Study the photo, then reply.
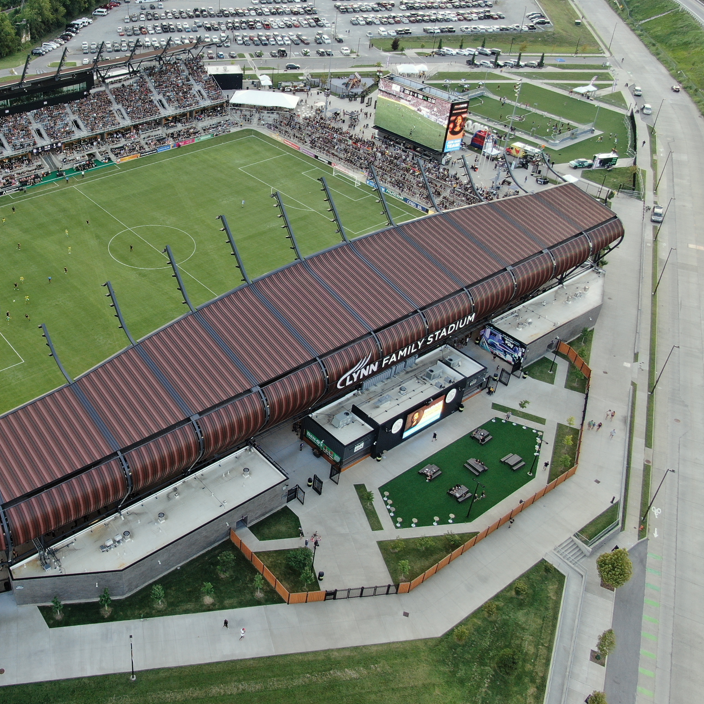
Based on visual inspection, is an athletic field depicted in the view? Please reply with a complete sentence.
Yes, an athletic field appears in the view.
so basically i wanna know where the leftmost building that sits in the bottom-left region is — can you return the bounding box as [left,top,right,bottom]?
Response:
[9,445,290,606]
